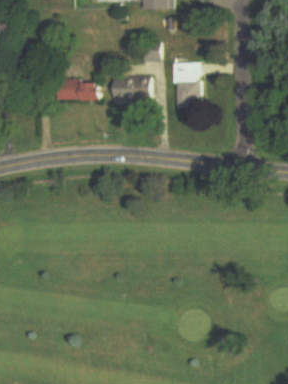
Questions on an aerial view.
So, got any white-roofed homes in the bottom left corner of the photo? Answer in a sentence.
No, looking in the bottom left corner of the photo, there is no white-roofed home.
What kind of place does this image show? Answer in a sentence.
This looks like a golf course.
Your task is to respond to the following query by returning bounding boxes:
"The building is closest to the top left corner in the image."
[57,78,102,101]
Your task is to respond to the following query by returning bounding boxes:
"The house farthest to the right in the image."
[174,57,204,109]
